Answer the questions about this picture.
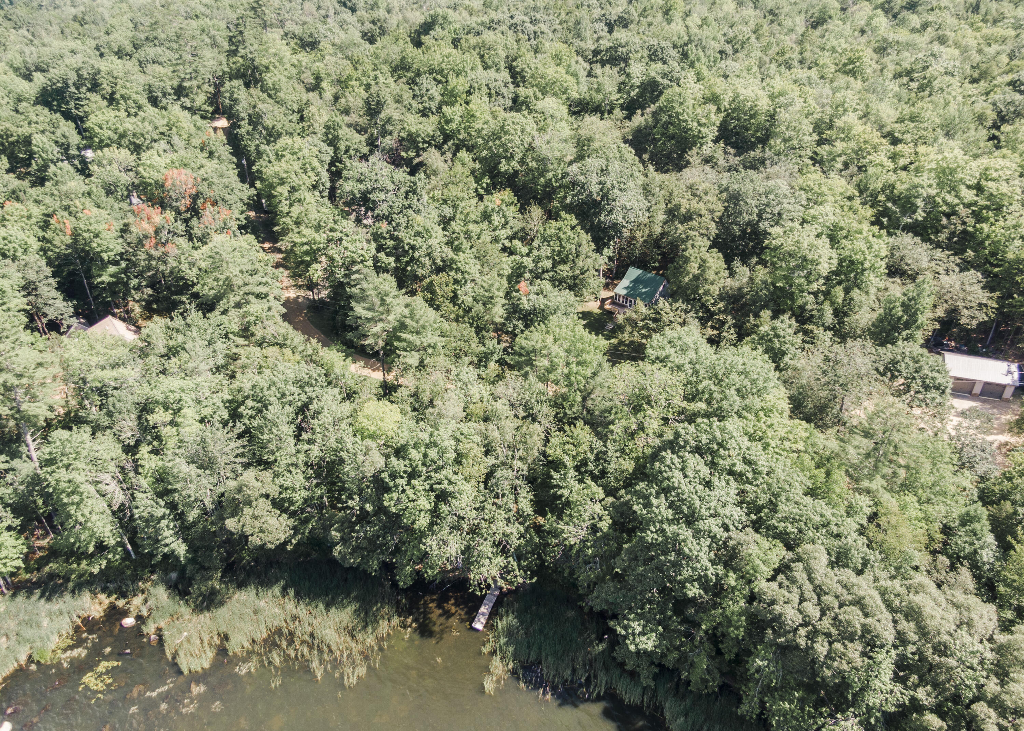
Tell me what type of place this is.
forest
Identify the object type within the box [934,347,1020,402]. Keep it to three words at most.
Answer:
building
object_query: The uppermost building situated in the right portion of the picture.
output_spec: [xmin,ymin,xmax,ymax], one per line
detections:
[603,266,670,325]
